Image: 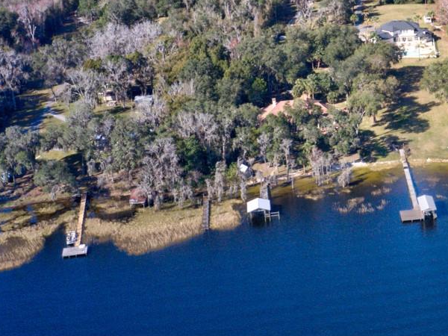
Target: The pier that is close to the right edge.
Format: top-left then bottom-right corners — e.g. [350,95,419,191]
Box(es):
[398,147,426,226]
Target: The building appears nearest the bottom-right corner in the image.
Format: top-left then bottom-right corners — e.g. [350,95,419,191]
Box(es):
[416,191,438,224]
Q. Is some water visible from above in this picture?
Yes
